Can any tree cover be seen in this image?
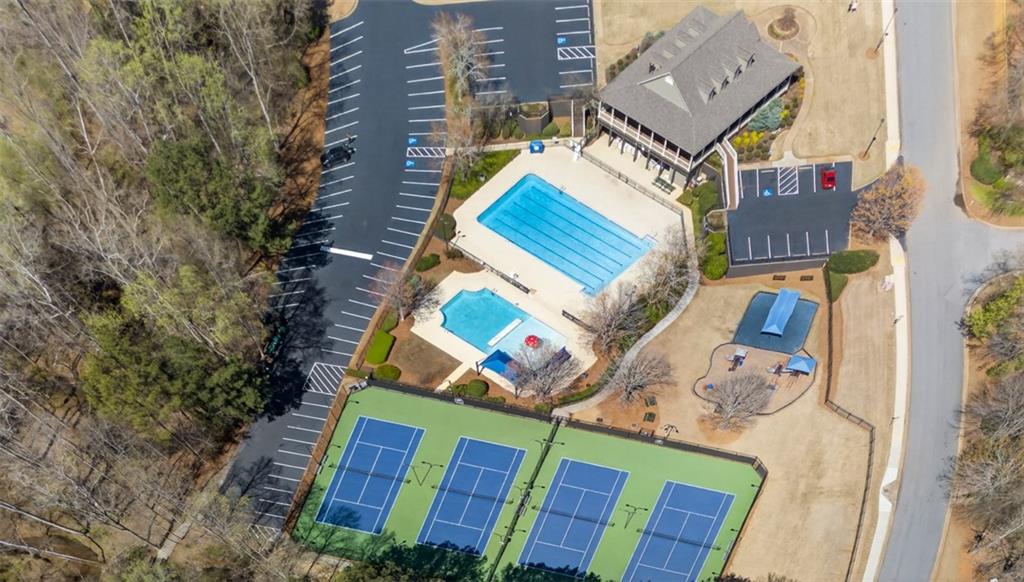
Yes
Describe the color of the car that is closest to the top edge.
black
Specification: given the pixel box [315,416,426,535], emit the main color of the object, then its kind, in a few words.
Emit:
blue tennis court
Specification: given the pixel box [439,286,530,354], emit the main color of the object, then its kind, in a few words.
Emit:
blue swimming pool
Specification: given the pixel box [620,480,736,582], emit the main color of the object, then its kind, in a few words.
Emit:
blue tennis court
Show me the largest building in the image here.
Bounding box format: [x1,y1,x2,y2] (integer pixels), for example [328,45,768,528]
[600,5,802,172]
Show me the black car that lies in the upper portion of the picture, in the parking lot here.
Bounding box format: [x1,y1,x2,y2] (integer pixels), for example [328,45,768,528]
[321,141,351,167]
